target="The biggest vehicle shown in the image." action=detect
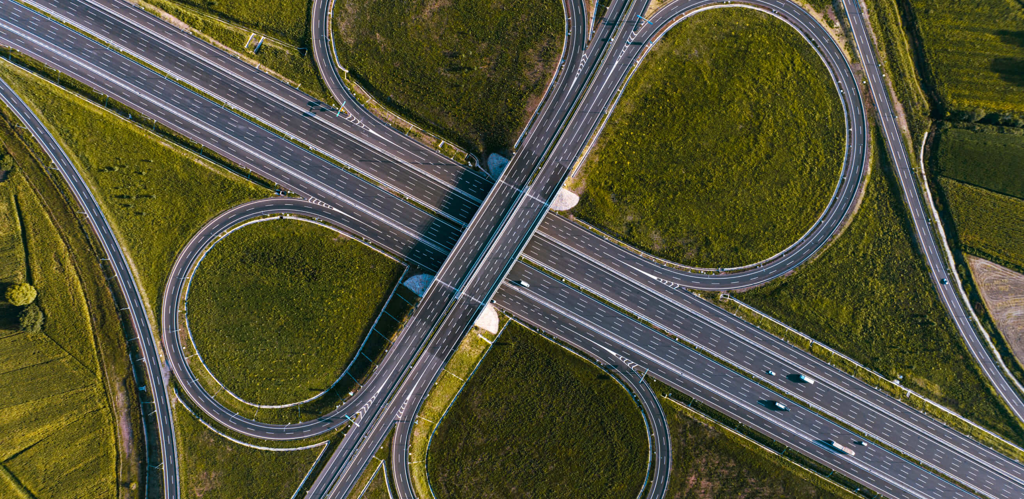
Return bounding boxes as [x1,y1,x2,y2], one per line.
[832,442,857,457]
